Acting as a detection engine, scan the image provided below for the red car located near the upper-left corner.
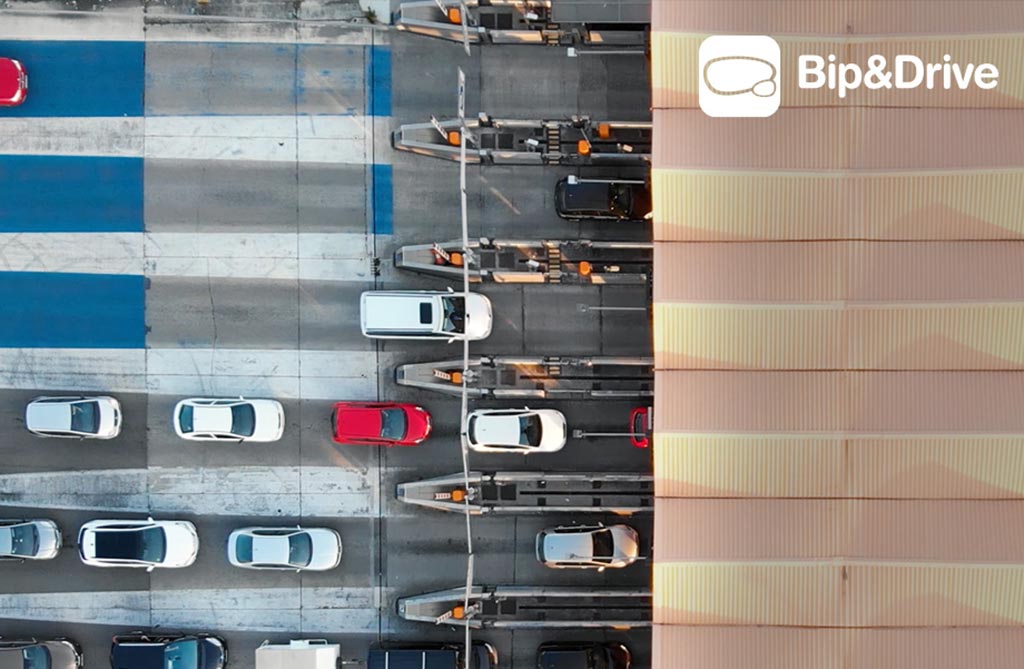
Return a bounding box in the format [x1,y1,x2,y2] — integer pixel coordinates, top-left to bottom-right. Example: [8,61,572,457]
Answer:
[0,61,30,106]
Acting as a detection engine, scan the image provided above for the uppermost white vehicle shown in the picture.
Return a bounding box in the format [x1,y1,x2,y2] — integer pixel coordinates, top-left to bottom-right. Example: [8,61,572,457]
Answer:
[360,288,492,343]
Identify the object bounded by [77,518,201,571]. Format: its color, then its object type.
white car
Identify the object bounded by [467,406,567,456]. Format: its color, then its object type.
white car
